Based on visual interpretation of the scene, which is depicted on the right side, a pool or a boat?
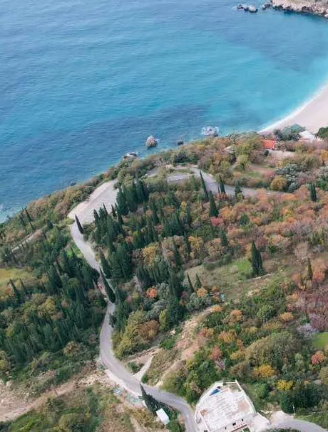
pool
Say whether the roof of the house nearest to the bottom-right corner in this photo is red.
No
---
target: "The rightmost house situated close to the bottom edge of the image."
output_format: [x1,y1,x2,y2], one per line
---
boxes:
[199,388,255,432]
